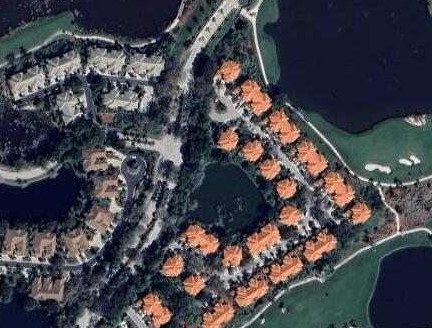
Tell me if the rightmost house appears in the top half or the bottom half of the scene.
bottom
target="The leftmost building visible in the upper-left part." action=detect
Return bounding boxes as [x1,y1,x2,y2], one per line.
[7,69,45,96]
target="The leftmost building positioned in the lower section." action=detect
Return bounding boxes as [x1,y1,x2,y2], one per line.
[2,230,26,257]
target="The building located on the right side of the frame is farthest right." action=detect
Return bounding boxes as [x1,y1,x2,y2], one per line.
[348,203,372,226]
